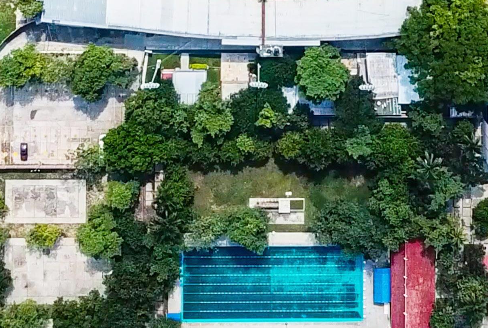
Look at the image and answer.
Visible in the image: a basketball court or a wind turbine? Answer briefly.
basketball court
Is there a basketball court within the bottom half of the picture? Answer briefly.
Yes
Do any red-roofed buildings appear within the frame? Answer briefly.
Yes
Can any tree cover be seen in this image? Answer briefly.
Yes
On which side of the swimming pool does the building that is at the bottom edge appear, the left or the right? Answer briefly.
on its right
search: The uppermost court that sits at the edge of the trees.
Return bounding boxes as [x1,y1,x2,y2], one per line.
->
[5,179,86,223]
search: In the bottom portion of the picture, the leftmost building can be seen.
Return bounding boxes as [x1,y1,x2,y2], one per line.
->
[250,197,305,224]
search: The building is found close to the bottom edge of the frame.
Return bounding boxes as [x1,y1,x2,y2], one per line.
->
[391,240,434,328]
